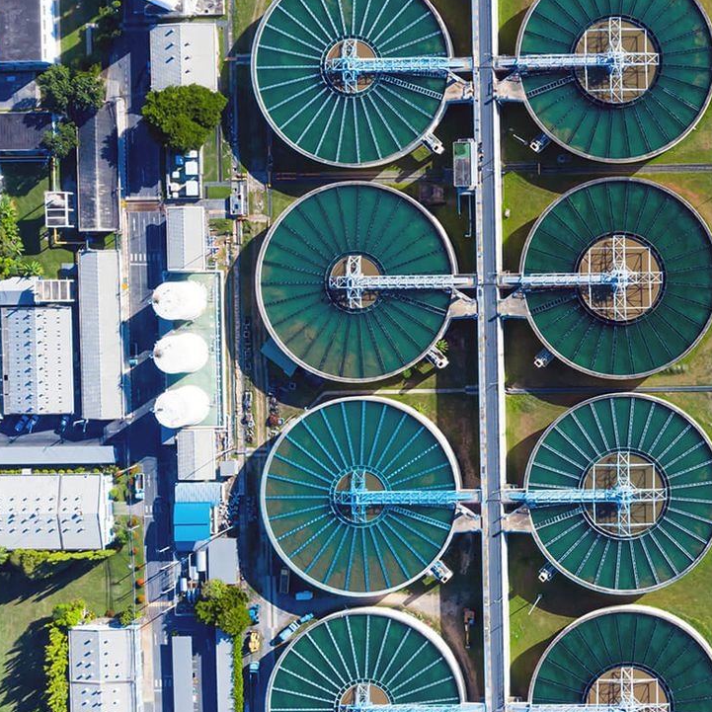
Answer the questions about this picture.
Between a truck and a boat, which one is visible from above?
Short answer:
truck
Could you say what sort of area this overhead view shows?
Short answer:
industrial area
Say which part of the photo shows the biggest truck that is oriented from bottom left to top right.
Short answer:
bottom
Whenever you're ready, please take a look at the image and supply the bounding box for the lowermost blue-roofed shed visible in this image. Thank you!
[173,503,218,551]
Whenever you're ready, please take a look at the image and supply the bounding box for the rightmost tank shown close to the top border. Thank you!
[503,0,712,163]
